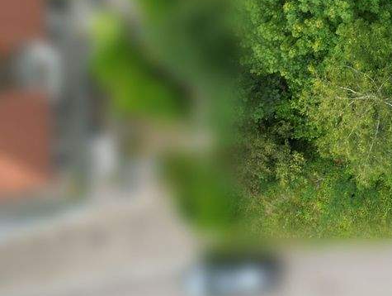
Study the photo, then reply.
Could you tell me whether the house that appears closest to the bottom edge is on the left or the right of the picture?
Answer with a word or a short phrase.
left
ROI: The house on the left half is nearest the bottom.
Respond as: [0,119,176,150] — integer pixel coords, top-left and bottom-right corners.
[0,80,100,197]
